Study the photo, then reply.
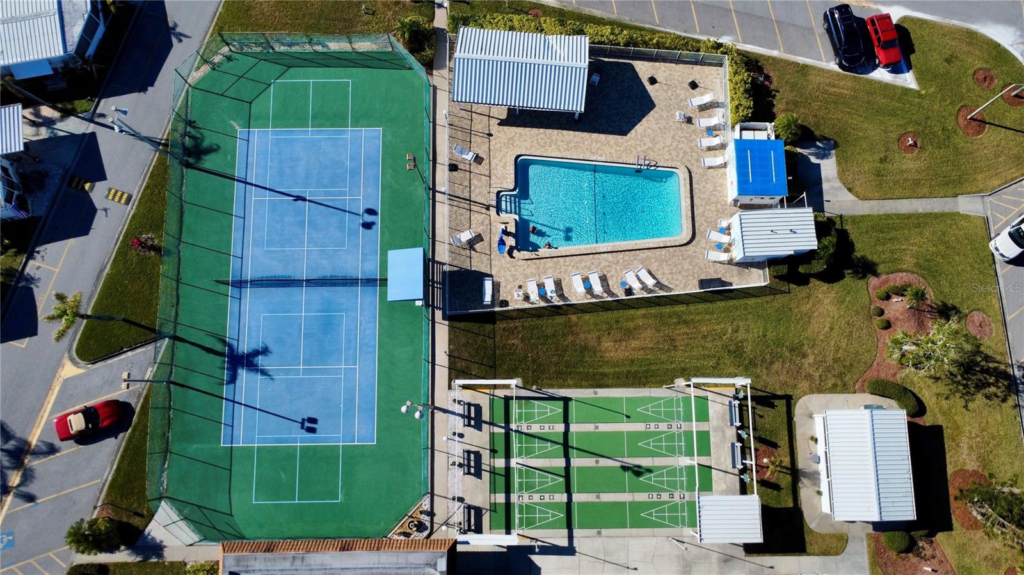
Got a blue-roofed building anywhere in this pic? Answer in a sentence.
Yes, a blue-roofed building can be made out from above.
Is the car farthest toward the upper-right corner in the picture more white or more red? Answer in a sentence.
From above, the car farthest toward the upper-right corner appears red.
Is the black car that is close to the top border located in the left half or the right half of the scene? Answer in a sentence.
The black car that is close to the top border sits on the right side.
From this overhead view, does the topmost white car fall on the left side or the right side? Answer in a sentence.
It is on the right.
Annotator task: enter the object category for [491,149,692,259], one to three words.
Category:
swimming pool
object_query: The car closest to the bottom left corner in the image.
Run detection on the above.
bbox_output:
[50,403,125,444]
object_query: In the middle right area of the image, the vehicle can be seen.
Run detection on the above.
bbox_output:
[990,216,1024,265]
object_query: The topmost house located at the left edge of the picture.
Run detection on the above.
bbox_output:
[0,0,108,93]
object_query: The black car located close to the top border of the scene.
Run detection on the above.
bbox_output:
[825,5,869,69]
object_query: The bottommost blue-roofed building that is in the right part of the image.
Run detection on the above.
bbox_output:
[725,139,788,205]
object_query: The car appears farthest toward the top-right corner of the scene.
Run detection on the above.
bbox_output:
[869,6,910,67]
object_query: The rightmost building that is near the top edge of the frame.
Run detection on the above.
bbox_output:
[452,26,588,114]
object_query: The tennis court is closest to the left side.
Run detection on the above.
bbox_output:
[166,51,430,539]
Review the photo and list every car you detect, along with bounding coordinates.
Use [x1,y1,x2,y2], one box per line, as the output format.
[869,6,910,67]
[990,216,1024,265]
[825,5,869,69]
[50,403,125,444]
